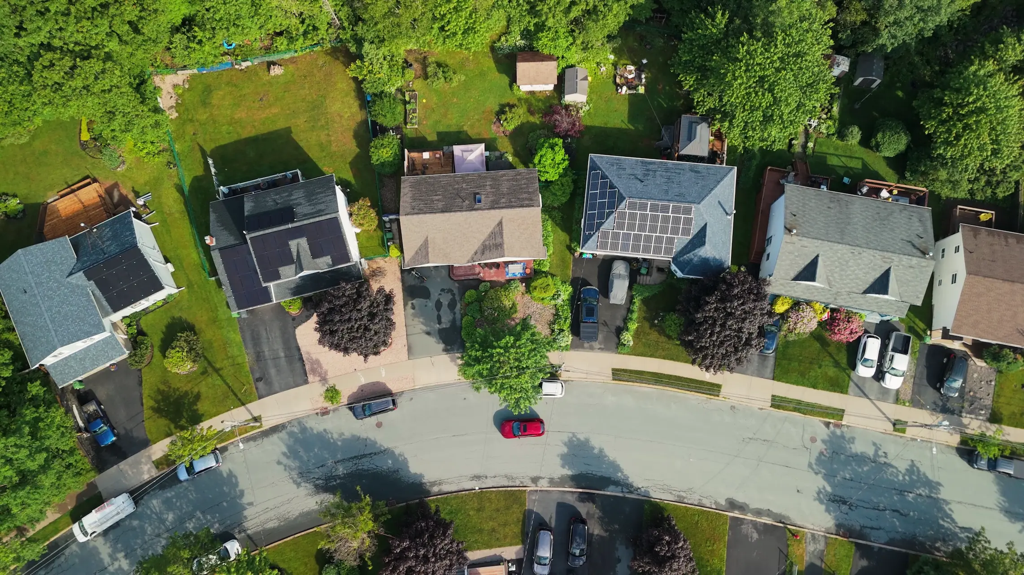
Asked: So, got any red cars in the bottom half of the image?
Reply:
Yes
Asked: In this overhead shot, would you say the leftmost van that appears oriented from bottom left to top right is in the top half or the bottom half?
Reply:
bottom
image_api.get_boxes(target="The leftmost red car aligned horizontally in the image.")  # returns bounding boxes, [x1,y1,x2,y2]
[501,418,545,440]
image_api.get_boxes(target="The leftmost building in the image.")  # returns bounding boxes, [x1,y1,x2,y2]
[0,210,185,386]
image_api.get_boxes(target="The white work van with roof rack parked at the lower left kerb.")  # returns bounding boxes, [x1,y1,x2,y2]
[72,494,137,543]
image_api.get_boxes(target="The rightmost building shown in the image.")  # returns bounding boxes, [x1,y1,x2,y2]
[932,224,1024,352]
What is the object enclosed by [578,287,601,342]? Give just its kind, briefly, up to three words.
truck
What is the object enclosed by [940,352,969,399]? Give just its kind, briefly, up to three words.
car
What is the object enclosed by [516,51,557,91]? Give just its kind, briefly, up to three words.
shed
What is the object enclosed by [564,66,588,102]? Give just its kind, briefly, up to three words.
shed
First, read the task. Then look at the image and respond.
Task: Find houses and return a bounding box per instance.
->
[0,210,185,386]
[759,183,936,321]
[202,173,368,313]
[579,154,737,282]
[932,224,1024,352]
[399,167,547,272]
